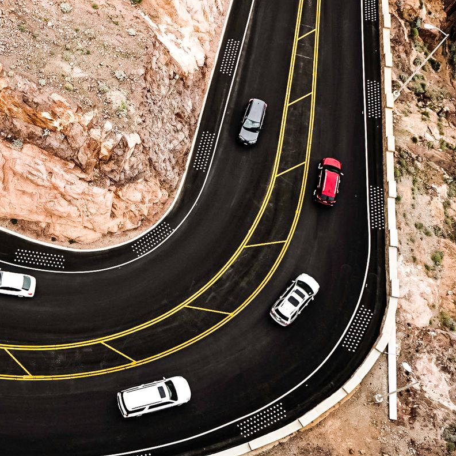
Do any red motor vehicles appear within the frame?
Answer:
Yes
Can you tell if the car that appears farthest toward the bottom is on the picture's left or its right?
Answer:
left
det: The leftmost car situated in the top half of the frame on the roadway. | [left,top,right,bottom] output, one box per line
[238,96,268,146]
